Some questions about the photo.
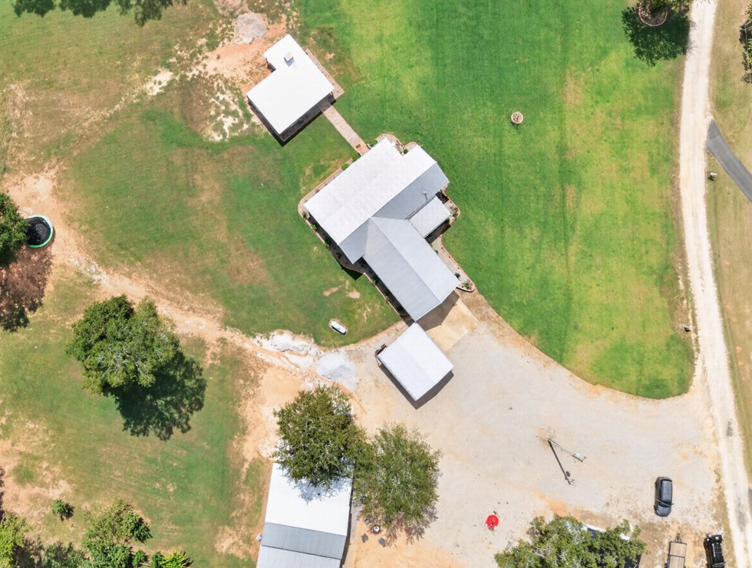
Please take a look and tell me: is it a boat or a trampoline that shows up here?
trampoline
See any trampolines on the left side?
Yes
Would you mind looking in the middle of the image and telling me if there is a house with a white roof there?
Yes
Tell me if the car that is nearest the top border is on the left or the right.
right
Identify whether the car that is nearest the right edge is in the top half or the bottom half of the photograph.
bottom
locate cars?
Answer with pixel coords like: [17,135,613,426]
[703,534,728,568]
[654,477,678,520]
